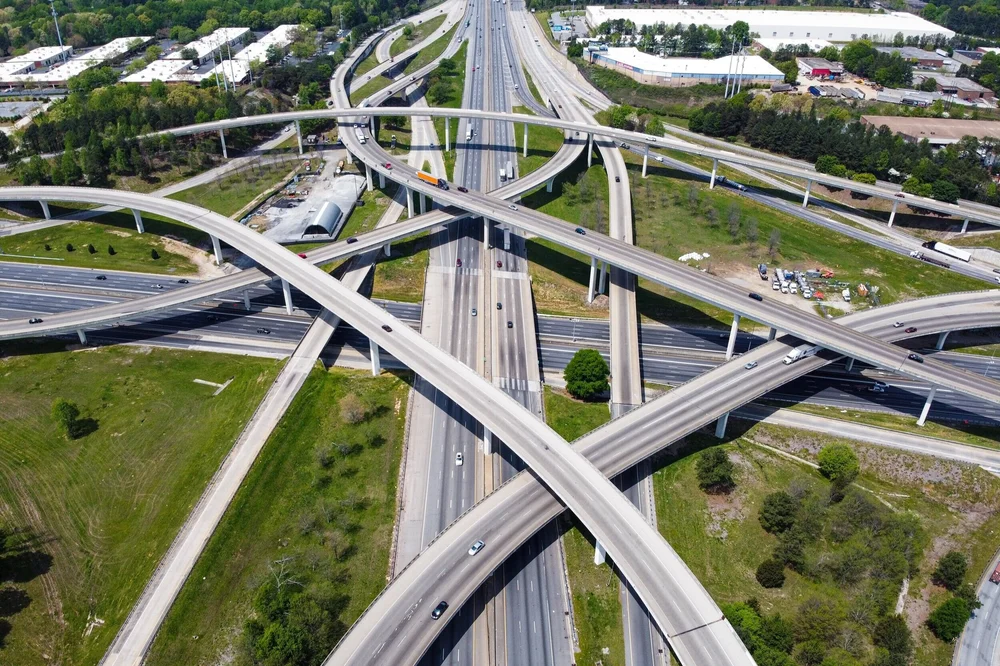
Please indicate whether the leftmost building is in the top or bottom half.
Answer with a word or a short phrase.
top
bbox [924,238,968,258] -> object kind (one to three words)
vehicle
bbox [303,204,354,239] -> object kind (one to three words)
shed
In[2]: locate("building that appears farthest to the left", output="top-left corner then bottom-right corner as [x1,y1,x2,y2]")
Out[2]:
[0,46,73,74]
